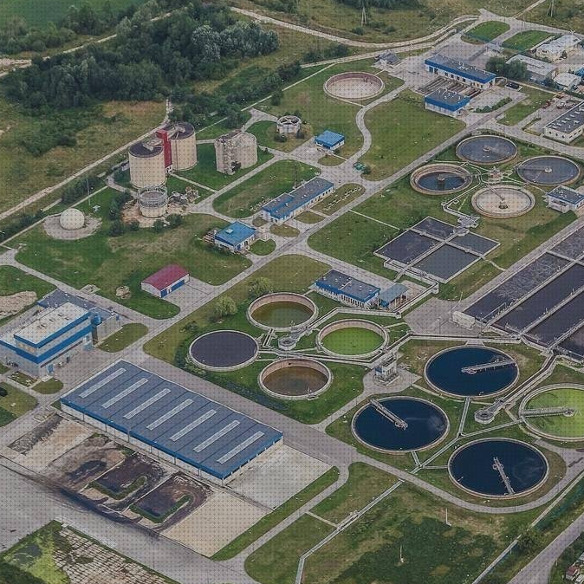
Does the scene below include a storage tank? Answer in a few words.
Yes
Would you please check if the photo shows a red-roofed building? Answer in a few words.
Yes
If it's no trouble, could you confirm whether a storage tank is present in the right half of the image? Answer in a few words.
Yes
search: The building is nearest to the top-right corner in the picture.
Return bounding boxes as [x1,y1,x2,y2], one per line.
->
[531,35,582,64]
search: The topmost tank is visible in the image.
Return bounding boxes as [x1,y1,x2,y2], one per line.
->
[323,74,385,102]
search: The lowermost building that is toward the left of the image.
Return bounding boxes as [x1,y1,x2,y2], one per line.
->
[68,356,285,488]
